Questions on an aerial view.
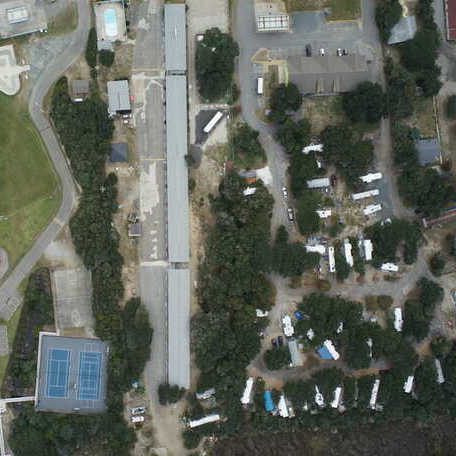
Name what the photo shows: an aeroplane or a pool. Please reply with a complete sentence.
I can see a pool in this picture.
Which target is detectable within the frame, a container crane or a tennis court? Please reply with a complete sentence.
There is a tennis court in the scene.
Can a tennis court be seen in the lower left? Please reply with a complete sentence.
Yes, looking in the lower left, one can make out a tennis court.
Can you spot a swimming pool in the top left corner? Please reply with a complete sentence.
Yes, the scene does show a swimming pool in the top left corner.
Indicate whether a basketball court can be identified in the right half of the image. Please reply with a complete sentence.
No, I can find no basketball court in the right half of the image.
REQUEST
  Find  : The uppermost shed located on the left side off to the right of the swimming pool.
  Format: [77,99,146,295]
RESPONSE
[166,4,185,71]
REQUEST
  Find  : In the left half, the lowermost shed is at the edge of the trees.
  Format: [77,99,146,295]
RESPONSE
[169,269,190,387]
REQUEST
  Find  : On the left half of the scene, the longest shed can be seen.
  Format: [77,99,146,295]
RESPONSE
[166,75,189,262]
